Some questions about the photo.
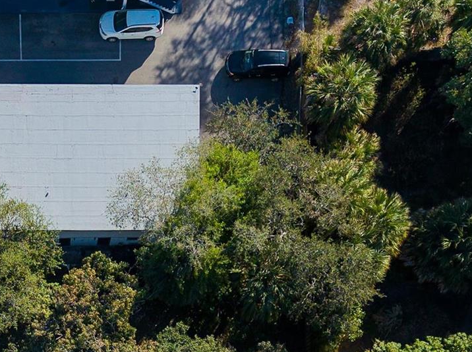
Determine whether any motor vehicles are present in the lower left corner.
No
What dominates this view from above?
trees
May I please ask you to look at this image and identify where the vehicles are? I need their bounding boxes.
[98,6,164,42]
[222,44,292,80]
